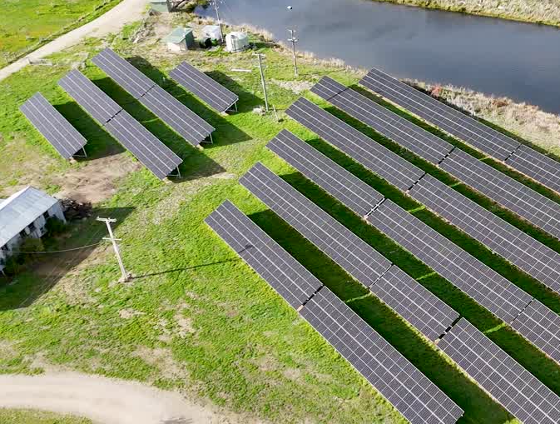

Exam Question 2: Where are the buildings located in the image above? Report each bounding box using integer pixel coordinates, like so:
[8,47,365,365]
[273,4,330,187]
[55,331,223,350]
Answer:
[0,188,63,270]
[163,26,200,51]
[148,0,175,11]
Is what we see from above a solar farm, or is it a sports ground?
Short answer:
solar farm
